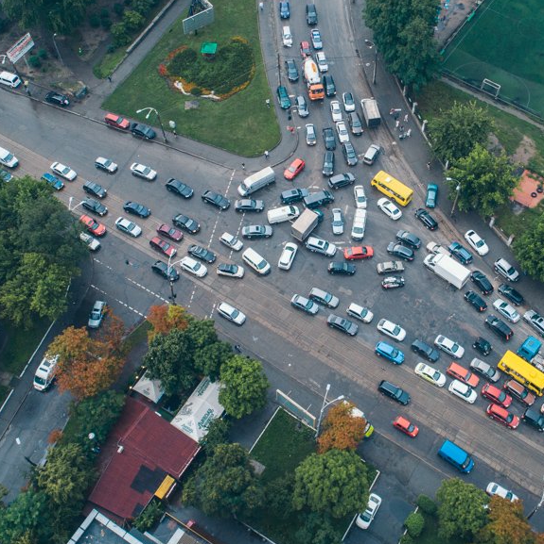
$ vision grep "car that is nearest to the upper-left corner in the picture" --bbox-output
[0,71,23,89]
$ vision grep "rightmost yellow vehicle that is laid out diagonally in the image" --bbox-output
[497,351,544,399]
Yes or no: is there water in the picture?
No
